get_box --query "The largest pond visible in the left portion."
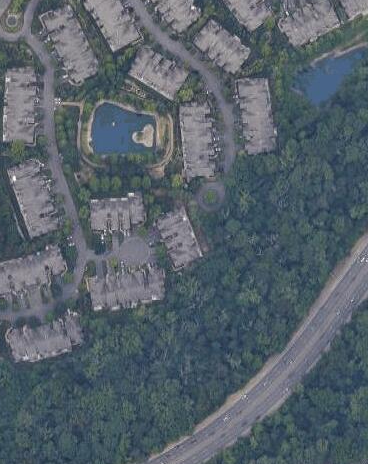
[91,102,156,155]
